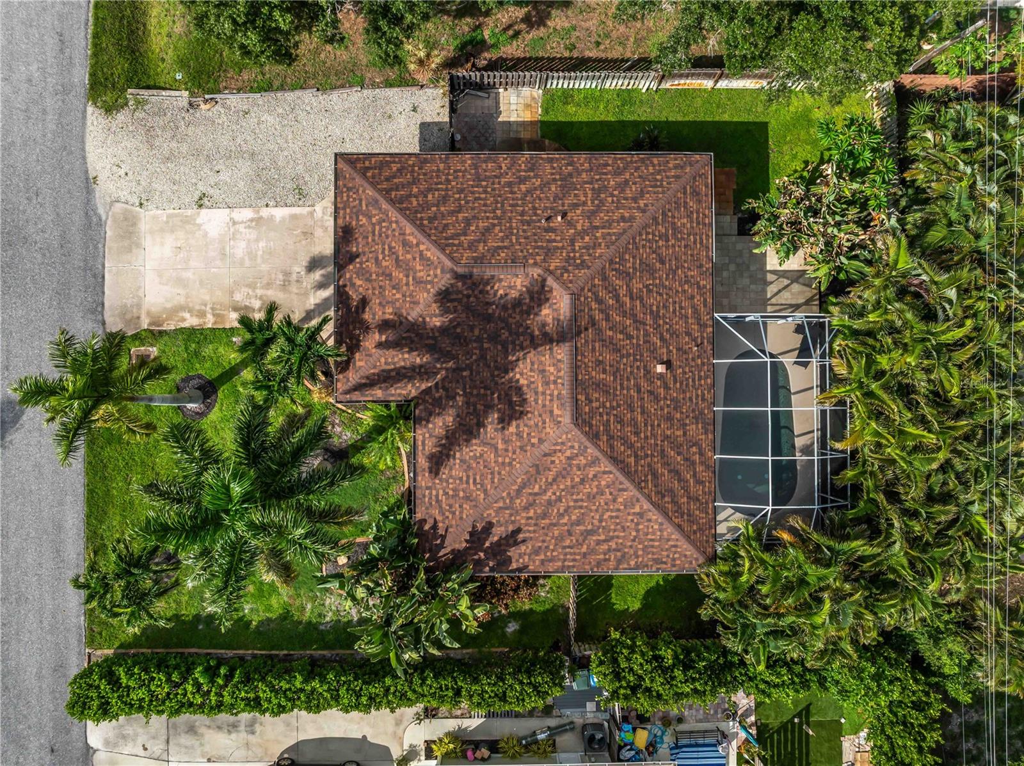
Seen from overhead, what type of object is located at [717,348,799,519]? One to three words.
swimming pool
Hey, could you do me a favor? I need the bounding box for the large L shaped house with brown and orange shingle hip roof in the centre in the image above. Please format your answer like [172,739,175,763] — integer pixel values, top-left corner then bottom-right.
[332,150,717,575]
